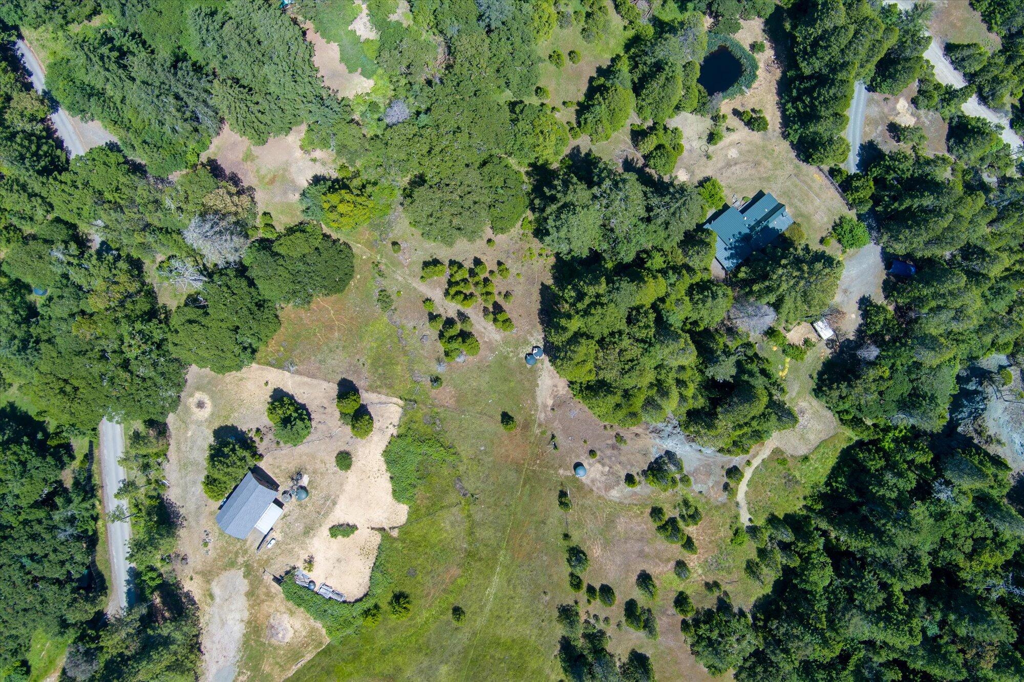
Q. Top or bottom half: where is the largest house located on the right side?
top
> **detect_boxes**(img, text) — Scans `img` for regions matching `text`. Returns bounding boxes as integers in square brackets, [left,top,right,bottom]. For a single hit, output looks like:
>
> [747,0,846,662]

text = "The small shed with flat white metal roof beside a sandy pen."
[809,318,834,339]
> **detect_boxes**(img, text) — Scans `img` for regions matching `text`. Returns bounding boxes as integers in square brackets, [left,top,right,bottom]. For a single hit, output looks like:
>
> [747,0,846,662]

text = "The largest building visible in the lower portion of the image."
[216,471,286,539]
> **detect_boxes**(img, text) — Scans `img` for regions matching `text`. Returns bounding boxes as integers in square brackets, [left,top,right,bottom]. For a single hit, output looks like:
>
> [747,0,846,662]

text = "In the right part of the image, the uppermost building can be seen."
[707,192,794,272]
